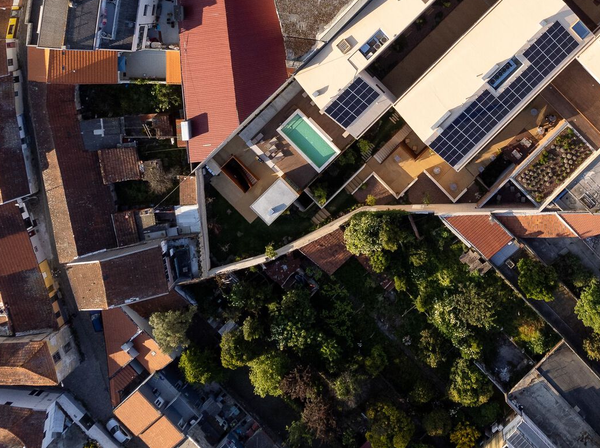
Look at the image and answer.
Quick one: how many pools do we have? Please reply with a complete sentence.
The picture shows just 1 pool.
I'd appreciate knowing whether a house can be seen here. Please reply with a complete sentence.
Yes, there's a house here.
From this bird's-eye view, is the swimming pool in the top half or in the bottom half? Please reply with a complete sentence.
Seen from above, the swimming pool lies in the top half of the view.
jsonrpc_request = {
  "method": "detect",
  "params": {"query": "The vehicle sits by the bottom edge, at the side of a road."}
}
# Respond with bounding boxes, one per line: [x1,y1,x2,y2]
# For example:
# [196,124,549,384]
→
[103,412,134,446]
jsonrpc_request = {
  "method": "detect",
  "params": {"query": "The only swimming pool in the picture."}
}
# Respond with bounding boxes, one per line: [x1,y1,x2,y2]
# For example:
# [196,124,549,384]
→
[277,108,341,173]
